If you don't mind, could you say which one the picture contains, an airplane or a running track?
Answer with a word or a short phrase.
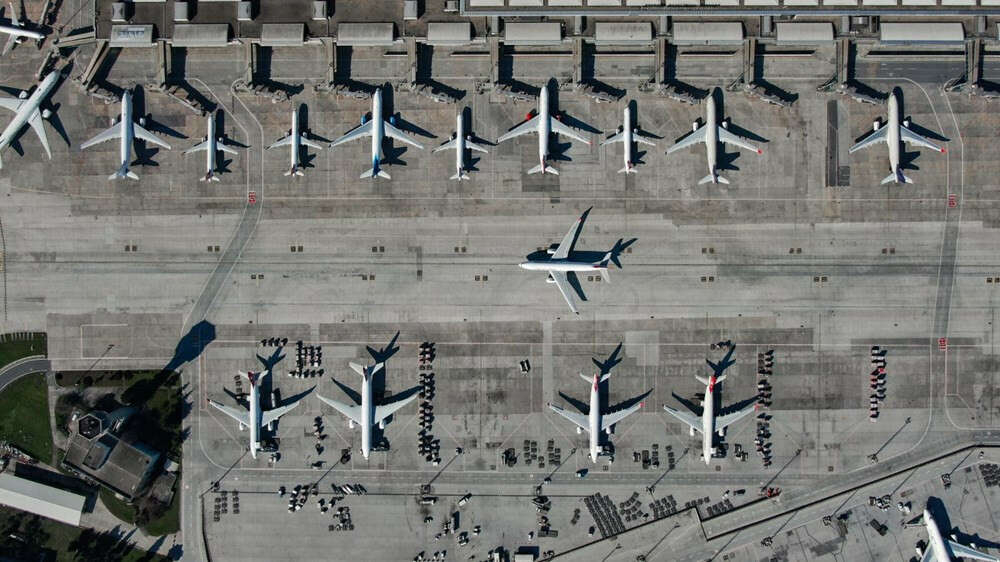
airplane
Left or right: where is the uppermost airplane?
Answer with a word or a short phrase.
left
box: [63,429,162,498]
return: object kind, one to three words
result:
building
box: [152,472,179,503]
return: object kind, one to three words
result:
house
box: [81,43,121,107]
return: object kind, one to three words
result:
jet bridge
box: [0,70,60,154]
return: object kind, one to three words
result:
airplane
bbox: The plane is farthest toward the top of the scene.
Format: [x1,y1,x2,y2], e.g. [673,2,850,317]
[0,1,45,57]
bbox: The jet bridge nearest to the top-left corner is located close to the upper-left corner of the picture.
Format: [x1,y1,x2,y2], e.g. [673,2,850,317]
[33,16,97,80]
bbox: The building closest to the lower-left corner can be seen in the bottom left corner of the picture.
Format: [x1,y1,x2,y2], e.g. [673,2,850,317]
[0,466,93,527]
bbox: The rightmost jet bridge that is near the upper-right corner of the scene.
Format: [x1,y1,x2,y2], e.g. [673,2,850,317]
[955,43,1000,104]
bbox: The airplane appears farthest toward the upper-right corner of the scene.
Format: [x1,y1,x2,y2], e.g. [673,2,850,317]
[850,92,946,184]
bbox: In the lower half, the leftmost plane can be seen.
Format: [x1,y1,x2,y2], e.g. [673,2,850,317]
[204,375,298,458]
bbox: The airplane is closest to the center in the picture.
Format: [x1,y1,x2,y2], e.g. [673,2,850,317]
[519,218,612,315]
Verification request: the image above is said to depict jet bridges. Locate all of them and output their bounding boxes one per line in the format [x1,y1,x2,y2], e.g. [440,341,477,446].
[733,43,799,108]
[645,43,707,108]
[159,44,210,117]
[565,43,622,107]
[244,44,291,107]
[824,43,890,108]
[33,16,97,80]
[81,43,121,107]
[327,43,373,105]
[482,43,540,102]
[408,43,458,108]
[955,43,1000,104]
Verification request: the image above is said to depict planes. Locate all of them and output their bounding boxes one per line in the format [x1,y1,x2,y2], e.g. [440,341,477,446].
[180,114,236,181]
[665,95,762,184]
[264,109,322,176]
[430,113,488,180]
[663,379,759,464]
[547,378,643,462]
[204,375,298,458]
[327,88,423,179]
[918,508,1000,562]
[0,1,45,57]
[496,85,591,174]
[312,364,420,459]
[76,89,169,179]
[600,107,656,174]
[850,92,946,184]
[0,70,60,154]
[519,218,612,315]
